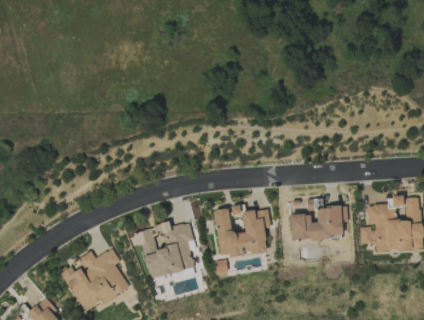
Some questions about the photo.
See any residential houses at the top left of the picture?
No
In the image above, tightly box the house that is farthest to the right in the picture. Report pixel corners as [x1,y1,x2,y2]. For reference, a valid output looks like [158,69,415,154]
[360,196,424,255]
